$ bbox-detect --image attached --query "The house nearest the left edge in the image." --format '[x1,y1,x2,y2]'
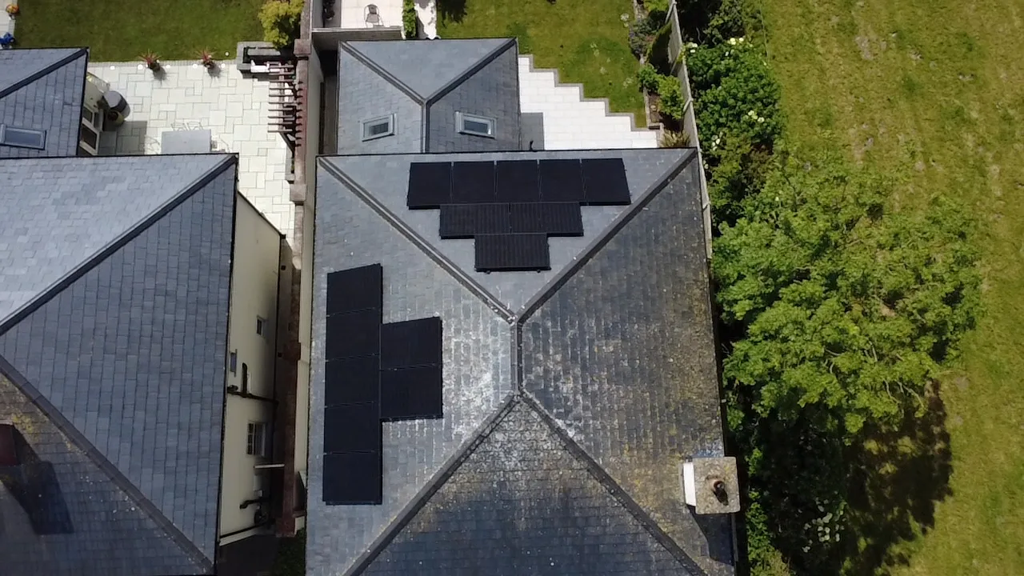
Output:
[0,43,284,576]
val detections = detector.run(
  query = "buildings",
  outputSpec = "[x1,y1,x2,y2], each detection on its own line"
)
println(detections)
[0,43,284,576]
[301,34,745,576]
